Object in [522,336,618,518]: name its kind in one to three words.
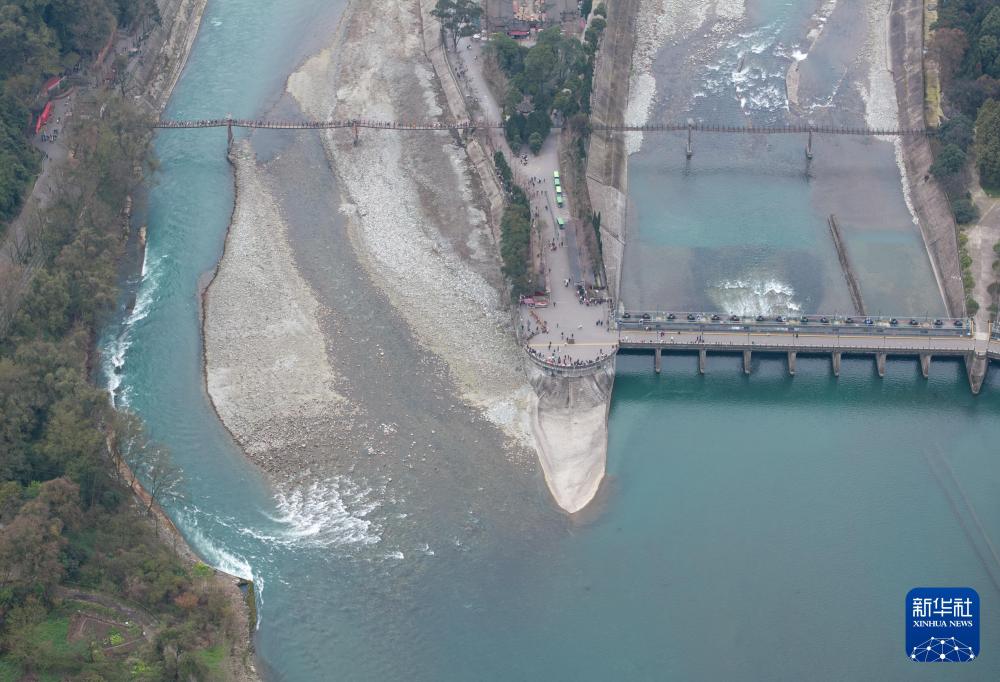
pier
